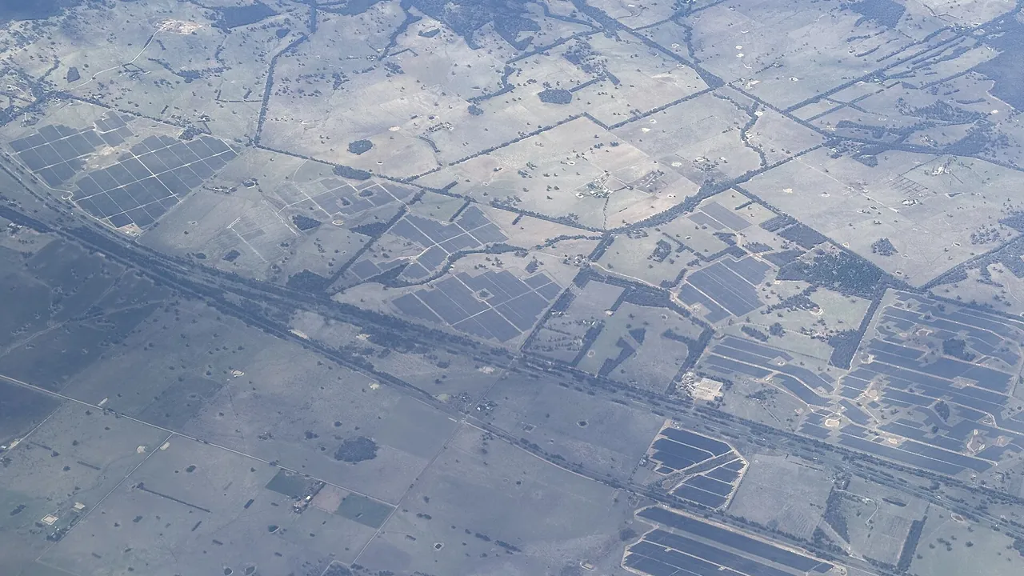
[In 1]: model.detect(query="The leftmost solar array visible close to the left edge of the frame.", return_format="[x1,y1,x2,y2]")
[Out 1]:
[9,110,241,227]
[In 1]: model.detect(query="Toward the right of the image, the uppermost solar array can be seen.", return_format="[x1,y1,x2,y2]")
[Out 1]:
[687,201,751,230]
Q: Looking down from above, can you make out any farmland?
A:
Yes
